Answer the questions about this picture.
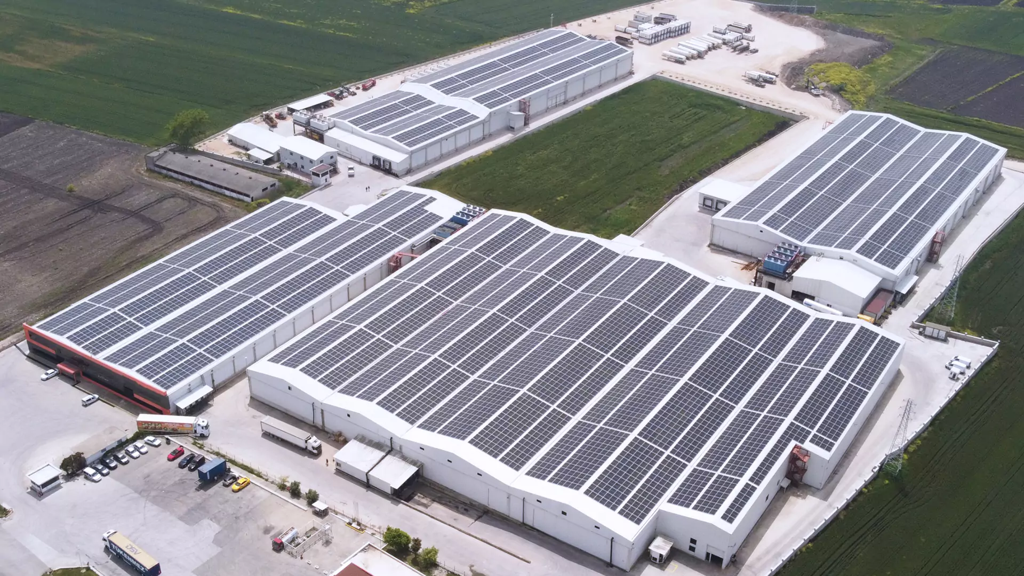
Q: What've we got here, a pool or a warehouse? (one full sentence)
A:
Looking from above, you can make out a warehouse.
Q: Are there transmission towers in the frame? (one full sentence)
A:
Yes, there's a transmission tower here.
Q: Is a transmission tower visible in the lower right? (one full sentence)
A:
Yes, I can see a transmission tower in the lower right.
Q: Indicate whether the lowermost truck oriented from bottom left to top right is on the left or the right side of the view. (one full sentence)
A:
The lowermost truck oriented from bottom left to top right is on the left side of the image.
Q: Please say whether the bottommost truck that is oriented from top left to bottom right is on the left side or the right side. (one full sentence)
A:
The bottommost truck that is oriented from top left to bottom right sits on the left side.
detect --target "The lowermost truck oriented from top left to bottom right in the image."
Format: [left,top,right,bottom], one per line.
[97,528,163,576]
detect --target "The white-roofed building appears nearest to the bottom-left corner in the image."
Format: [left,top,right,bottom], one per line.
[24,459,61,491]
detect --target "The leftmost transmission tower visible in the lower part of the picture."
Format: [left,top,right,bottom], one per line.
[882,398,920,475]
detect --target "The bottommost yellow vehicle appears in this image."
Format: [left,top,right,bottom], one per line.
[230,475,252,491]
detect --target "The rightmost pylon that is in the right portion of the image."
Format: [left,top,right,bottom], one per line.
[936,256,967,321]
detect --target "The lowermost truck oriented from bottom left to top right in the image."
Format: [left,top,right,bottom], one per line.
[269,515,301,553]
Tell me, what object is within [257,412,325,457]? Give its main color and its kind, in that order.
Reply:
white truck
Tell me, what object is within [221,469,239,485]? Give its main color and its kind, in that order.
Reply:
gray car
